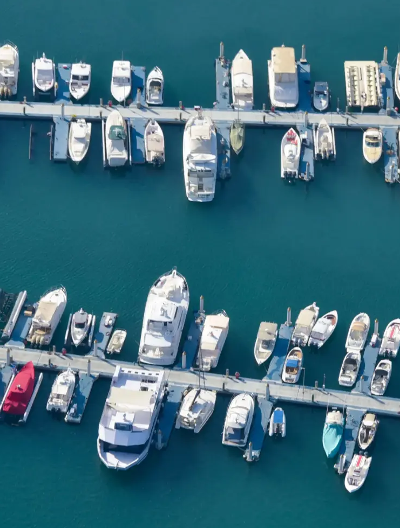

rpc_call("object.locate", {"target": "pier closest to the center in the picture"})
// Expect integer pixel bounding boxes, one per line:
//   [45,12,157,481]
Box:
[180,313,205,369]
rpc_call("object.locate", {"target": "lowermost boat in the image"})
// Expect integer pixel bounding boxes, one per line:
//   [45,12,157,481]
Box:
[345,450,374,496]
